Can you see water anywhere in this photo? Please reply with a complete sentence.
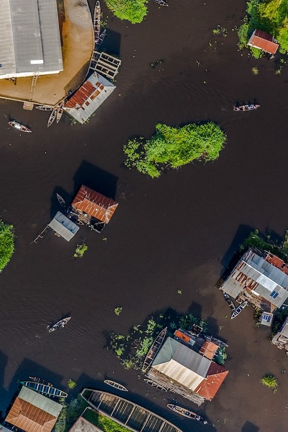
Yes, there is water in the image.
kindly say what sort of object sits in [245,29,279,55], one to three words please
house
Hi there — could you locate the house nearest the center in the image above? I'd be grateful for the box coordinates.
[72,185,119,224]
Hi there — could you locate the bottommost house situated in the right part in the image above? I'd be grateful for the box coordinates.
[145,330,228,405]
